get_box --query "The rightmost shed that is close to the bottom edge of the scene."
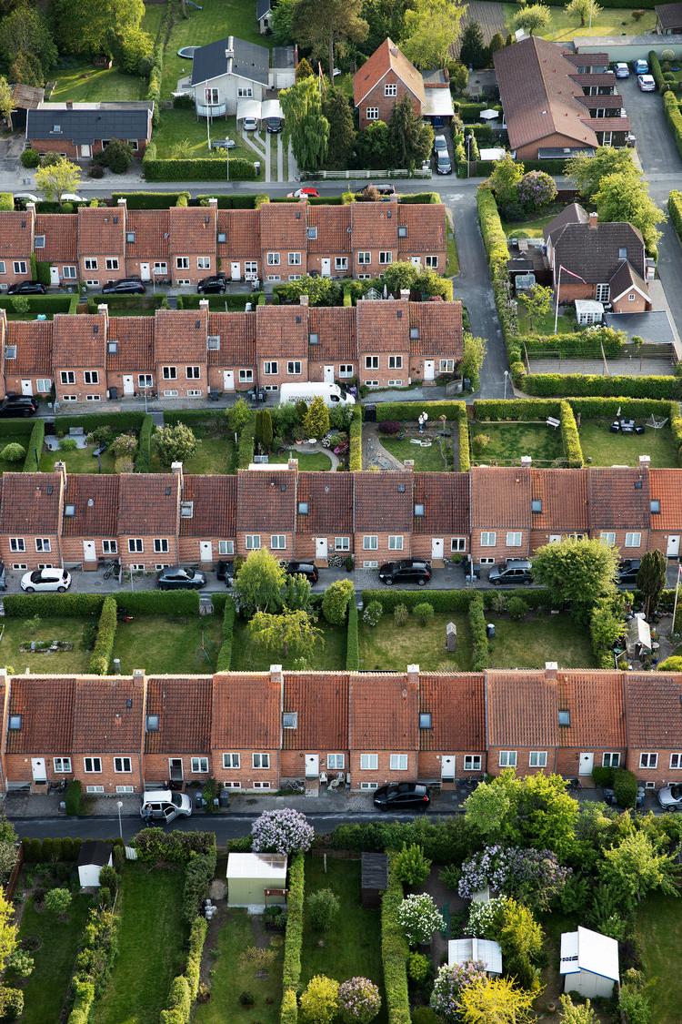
[551,920,617,993]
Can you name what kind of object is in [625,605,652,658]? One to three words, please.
greenhouse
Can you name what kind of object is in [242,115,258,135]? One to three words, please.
car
